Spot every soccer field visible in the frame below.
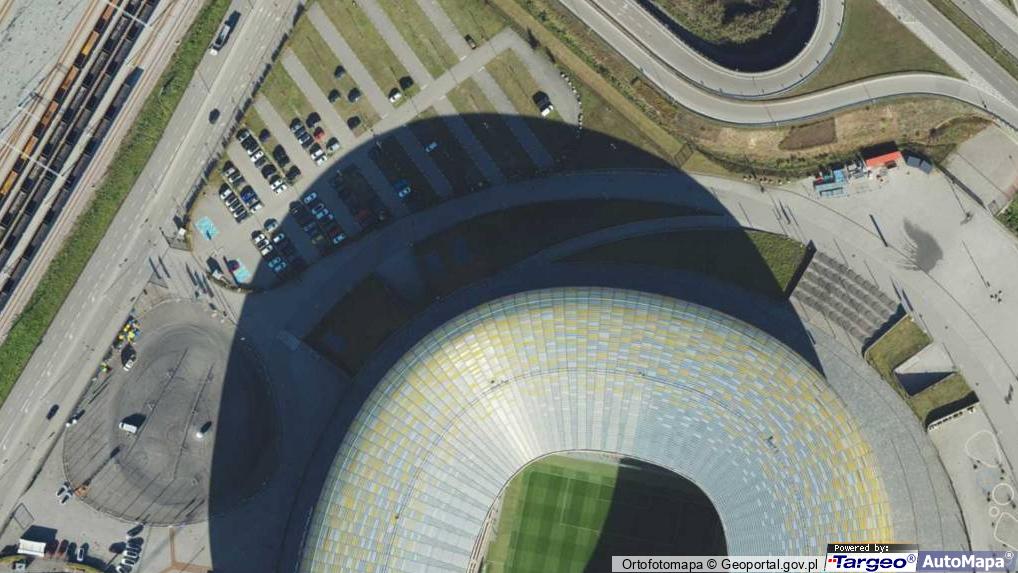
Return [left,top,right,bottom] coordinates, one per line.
[487,461,730,573]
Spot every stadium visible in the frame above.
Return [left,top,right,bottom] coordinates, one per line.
[296,284,896,573]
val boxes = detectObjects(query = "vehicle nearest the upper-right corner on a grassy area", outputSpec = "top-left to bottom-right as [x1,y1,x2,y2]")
[538,100,555,114]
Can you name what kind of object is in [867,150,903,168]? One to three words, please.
building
